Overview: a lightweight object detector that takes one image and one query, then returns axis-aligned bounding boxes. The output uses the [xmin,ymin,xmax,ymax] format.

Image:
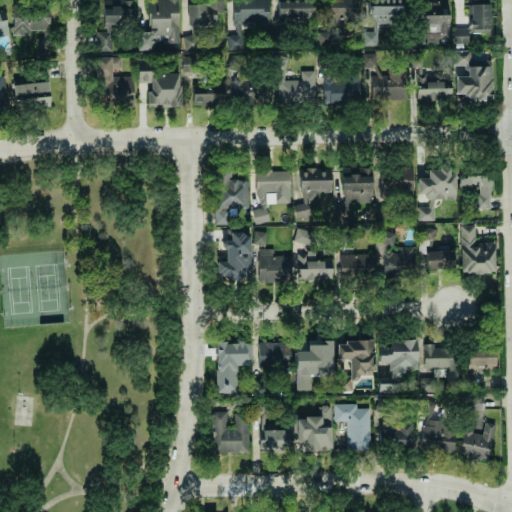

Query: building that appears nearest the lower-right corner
[463,422,494,461]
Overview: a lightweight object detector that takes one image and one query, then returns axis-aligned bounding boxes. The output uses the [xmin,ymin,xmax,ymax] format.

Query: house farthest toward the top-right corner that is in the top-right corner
[469,4,494,34]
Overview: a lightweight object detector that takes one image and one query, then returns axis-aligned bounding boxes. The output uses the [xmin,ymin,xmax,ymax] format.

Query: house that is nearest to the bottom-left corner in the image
[213,411,250,454]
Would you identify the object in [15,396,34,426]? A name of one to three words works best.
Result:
sports court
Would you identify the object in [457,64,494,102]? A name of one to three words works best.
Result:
house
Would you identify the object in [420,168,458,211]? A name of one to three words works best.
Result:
house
